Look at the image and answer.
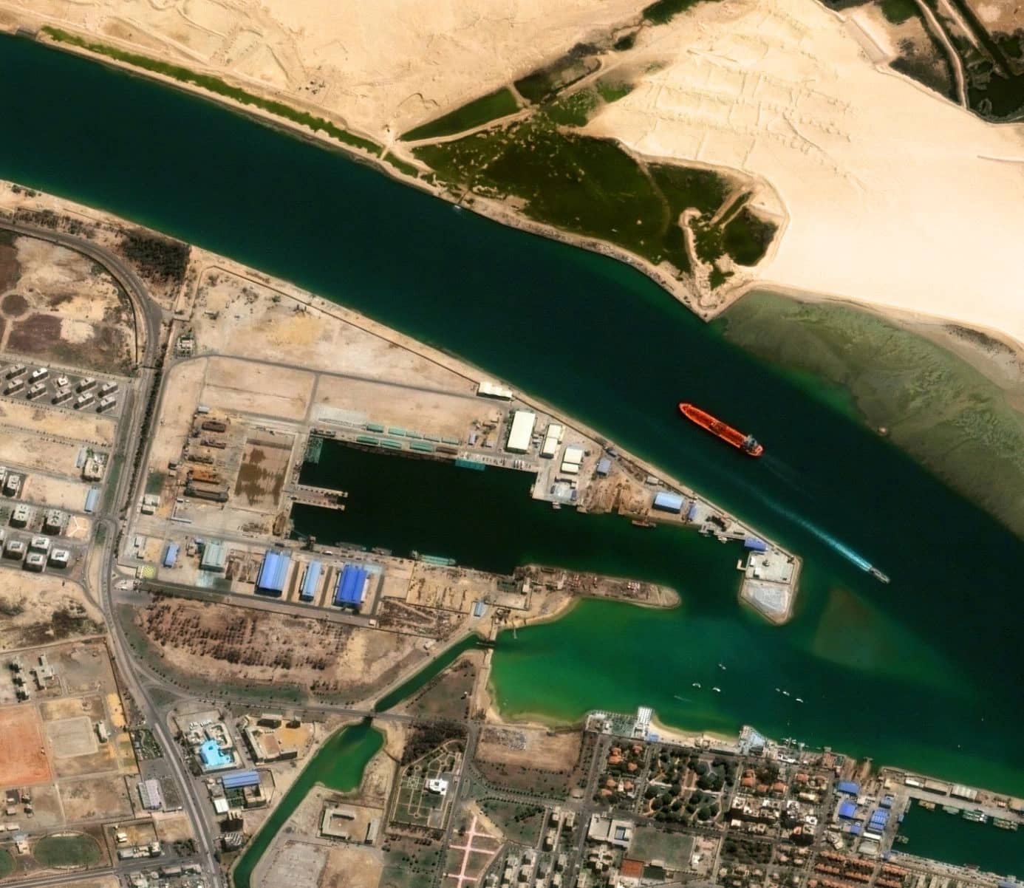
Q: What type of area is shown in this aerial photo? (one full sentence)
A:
The picture captures a port.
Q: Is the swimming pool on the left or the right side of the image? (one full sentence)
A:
The swimming pool appears in the left half of the scene.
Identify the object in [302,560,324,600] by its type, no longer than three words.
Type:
building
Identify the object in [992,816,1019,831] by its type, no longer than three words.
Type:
ship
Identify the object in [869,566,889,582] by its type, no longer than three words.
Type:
boat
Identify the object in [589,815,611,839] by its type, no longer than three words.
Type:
building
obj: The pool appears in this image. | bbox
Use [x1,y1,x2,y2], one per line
[200,740,234,765]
